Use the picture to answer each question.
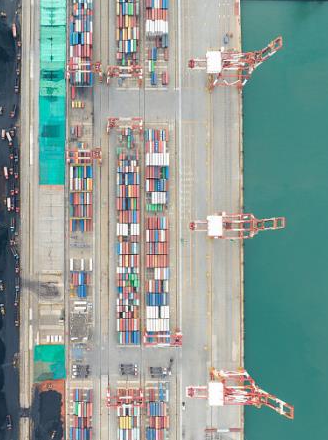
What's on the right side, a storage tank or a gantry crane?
gantry crane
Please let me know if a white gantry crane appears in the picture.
Yes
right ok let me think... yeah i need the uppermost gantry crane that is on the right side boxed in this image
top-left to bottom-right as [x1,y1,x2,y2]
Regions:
[187,34,283,96]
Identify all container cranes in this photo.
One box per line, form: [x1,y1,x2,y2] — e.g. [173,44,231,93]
[107,118,145,133]
[107,389,146,407]
[144,330,187,345]
[188,365,293,419]
[187,34,283,96]
[65,63,102,81]
[107,66,145,85]
[188,214,286,240]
